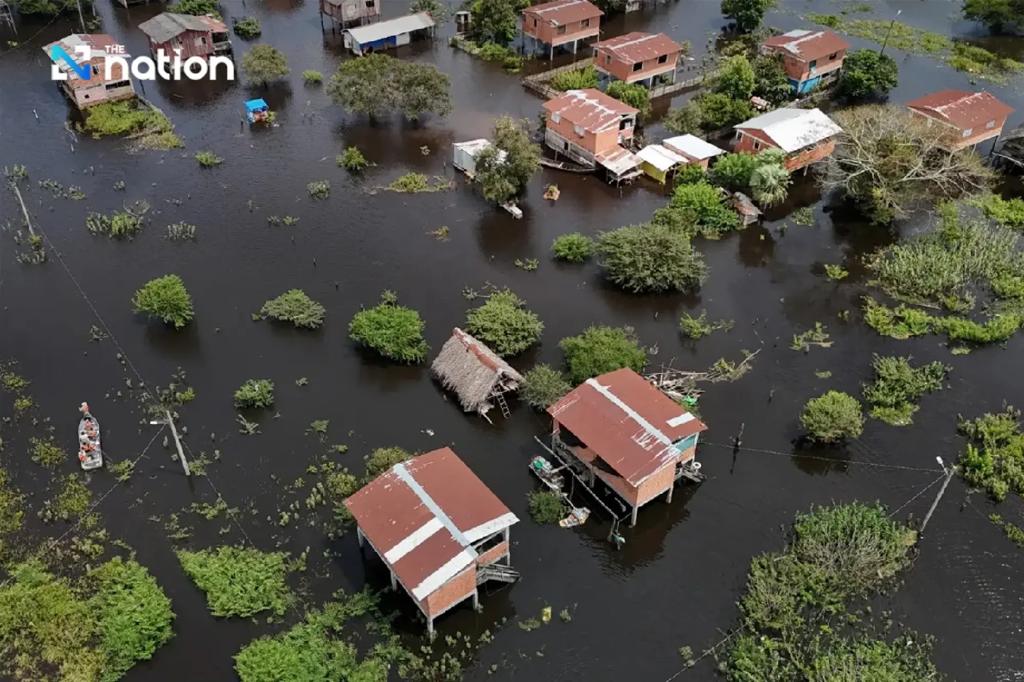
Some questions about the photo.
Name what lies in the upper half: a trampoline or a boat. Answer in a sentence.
The one visible in the upper half is a boat.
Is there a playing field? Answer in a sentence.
No, no playing field is visible in the scene.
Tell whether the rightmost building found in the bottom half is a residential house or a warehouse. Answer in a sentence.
From above, the rightmost building found in the bottom half can be identified as a residential house.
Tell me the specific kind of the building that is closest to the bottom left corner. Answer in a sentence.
The building that is closest to the bottom left corner appears to be a home.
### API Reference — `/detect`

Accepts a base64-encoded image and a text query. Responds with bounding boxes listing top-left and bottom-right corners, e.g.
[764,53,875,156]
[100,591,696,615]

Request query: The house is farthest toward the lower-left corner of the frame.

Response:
[343,446,528,637]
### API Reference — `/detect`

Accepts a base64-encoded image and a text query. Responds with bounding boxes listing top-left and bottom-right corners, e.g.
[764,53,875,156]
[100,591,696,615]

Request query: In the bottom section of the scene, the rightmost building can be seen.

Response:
[548,367,710,525]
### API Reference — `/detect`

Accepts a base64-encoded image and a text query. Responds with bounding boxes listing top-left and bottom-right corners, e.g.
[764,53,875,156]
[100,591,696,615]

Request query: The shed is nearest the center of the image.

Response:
[428,327,526,429]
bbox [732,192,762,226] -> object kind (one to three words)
shed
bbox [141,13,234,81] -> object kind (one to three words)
house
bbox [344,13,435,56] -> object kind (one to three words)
barn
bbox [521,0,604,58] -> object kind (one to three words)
house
